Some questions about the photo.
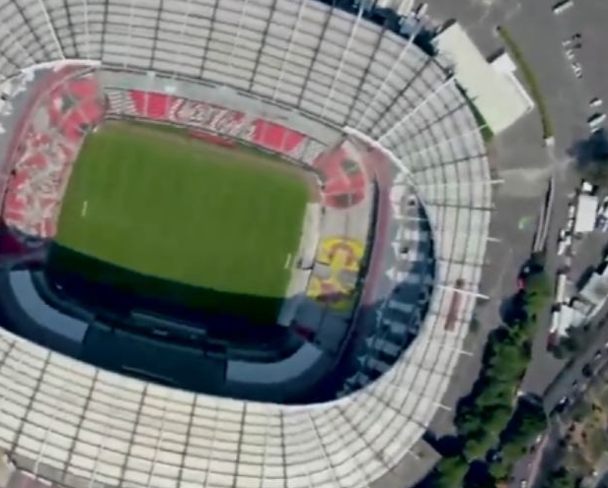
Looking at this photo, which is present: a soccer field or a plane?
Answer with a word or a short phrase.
soccer field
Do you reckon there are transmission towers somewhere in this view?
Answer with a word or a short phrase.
No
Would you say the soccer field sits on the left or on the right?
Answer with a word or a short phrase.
left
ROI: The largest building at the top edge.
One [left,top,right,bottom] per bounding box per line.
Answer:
[427,21,537,137]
